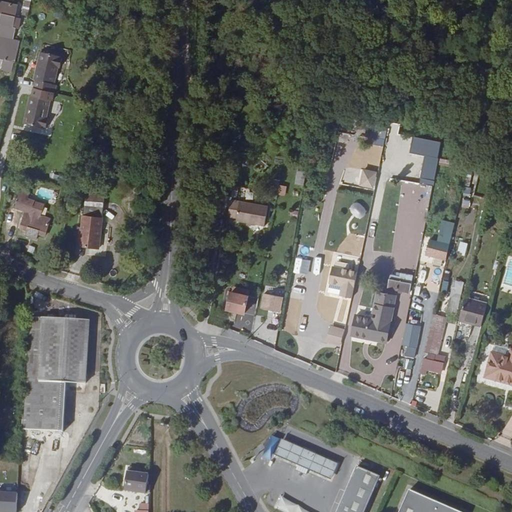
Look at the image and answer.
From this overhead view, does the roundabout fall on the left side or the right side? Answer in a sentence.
You can find the roundabout on the left side of the picture.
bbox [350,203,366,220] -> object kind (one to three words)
gazebo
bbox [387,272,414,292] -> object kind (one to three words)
shed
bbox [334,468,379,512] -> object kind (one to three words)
building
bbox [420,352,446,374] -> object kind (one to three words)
house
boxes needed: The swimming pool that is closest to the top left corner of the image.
[36,186,57,204]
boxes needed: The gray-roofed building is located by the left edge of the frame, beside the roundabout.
[23,317,90,432]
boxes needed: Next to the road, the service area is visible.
[244,426,360,512]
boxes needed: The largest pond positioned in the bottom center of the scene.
[236,383,298,433]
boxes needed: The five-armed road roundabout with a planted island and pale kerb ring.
[118,316,203,400]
